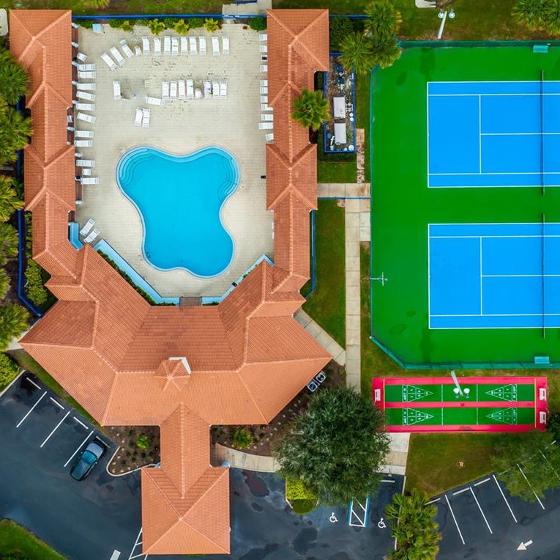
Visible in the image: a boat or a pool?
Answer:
pool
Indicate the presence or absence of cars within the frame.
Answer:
Yes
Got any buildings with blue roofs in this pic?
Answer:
No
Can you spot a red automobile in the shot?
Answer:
No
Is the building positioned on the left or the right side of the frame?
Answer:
left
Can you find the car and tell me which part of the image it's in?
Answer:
bottom left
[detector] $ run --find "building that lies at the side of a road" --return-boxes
[8,8,331,555]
